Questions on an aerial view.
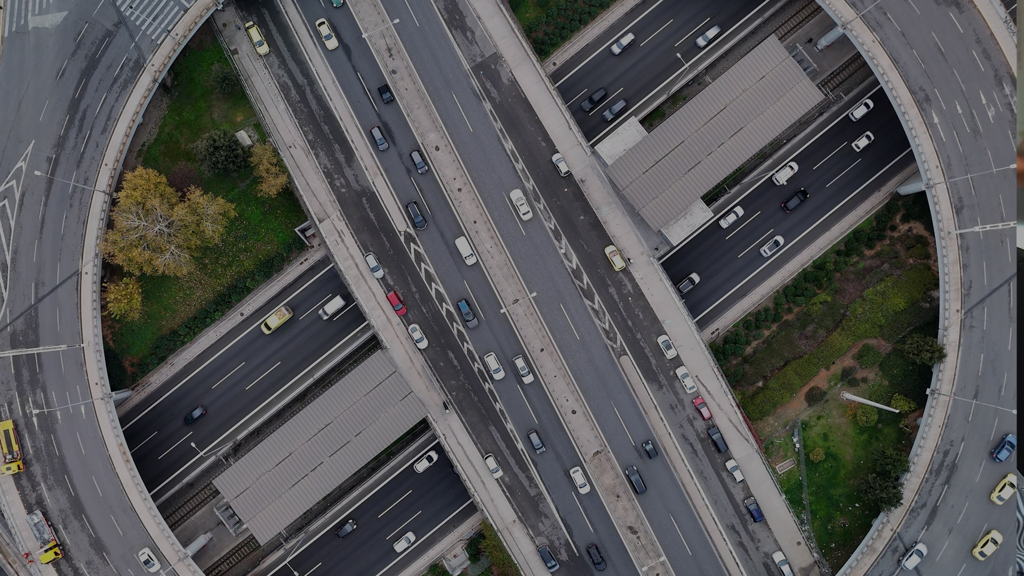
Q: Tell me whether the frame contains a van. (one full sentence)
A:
Yes, the image includes a van.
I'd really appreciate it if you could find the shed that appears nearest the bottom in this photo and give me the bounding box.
[443,545,471,576]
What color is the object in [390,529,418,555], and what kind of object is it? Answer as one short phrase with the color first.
white car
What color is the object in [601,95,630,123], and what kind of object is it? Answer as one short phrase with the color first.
gray car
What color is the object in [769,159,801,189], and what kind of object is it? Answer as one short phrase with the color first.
white car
